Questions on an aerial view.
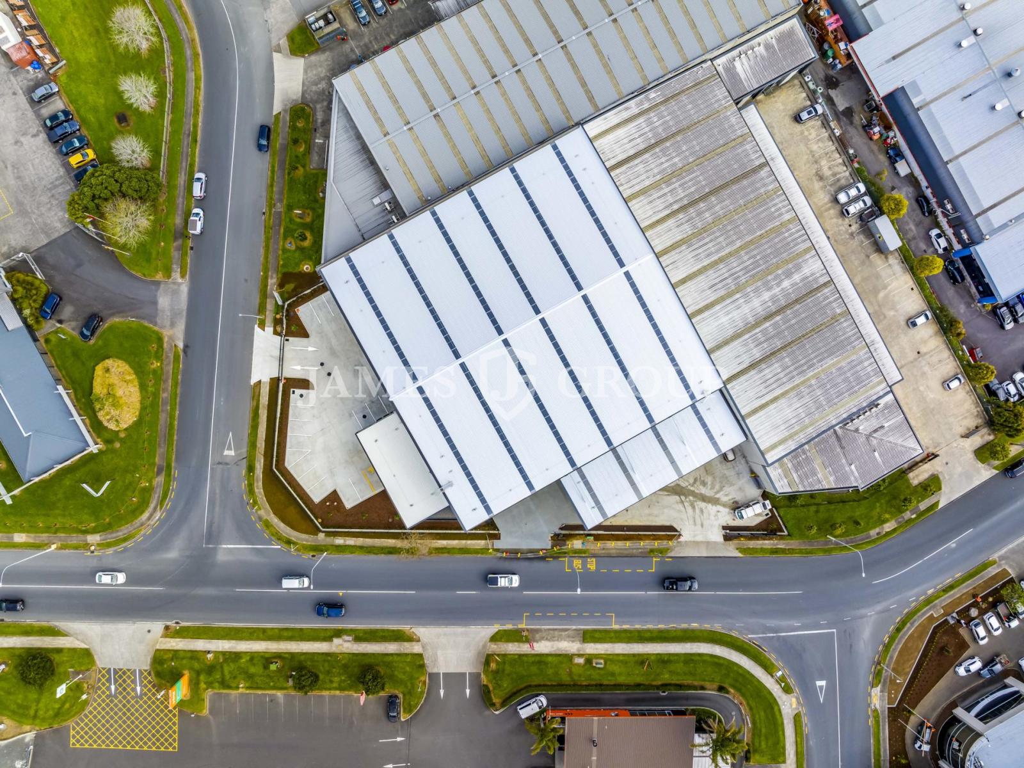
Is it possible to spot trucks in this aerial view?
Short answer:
Yes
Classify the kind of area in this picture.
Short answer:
industrial area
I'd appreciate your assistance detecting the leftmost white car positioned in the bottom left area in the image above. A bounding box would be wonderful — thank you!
[95,571,127,585]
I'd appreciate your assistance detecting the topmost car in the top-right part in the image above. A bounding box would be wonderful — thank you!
[794,104,824,124]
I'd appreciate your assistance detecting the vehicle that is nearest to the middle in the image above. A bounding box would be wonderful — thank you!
[487,573,519,588]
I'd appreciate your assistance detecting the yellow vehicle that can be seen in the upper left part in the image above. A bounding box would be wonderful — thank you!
[68,149,98,168]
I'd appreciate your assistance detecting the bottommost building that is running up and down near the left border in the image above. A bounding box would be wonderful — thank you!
[0,268,100,482]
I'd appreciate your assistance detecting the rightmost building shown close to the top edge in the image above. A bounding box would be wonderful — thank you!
[832,0,1024,249]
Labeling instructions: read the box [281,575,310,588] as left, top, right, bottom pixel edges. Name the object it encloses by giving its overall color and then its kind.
white vehicle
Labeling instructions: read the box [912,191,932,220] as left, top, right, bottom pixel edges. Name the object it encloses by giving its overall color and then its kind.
black car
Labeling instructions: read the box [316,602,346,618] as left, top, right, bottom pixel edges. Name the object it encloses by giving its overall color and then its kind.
blue car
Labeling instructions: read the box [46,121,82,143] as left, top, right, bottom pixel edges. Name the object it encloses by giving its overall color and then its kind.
blue truck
